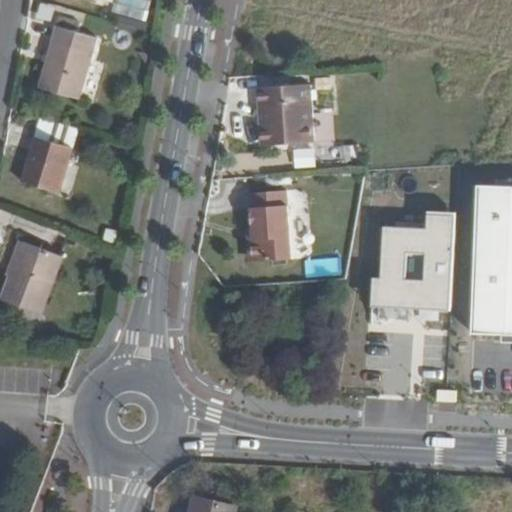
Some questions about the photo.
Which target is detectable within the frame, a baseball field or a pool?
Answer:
pool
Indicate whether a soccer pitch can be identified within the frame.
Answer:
No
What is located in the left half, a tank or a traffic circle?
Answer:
traffic circle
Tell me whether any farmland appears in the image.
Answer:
No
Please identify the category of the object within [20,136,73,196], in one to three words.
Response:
house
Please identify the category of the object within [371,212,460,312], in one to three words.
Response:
building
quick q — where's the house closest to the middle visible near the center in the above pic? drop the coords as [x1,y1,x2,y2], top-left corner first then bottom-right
[248,190,292,262]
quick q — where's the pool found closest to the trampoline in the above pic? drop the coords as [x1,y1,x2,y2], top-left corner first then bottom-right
[304,252,343,278]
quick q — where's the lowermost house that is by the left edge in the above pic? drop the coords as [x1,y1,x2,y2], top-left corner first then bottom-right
[0,240,64,310]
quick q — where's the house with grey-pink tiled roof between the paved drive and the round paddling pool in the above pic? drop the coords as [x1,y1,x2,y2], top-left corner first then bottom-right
[38,26,96,99]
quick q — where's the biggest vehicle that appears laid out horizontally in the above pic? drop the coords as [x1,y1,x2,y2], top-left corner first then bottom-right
[426,436,459,448]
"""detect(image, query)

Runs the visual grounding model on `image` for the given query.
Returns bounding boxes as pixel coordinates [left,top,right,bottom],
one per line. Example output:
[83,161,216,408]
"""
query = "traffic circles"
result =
[74,339,209,486]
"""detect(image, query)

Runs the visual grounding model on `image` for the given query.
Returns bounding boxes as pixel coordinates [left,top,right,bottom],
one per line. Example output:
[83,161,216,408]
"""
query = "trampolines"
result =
[400,177,417,193]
